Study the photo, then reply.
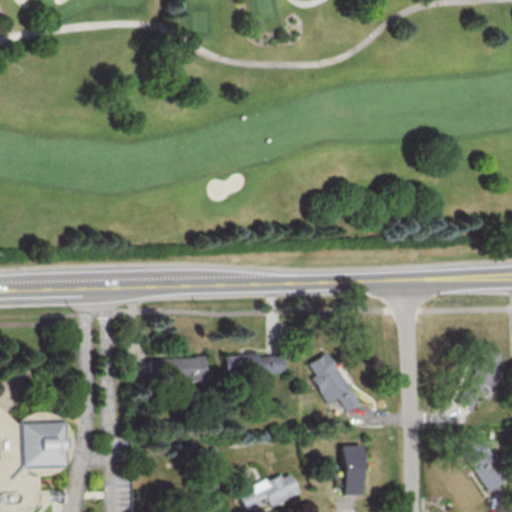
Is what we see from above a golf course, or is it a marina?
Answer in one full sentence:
It's a golf course.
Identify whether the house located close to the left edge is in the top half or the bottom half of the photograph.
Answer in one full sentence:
Seen from above, the house located close to the left edge lies in the bottom half of the view.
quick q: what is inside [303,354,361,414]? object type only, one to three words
house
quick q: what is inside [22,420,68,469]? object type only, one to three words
house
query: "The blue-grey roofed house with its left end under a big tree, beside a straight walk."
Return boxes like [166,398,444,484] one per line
[472,446,506,495]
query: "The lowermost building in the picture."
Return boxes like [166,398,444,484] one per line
[240,474,302,512]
